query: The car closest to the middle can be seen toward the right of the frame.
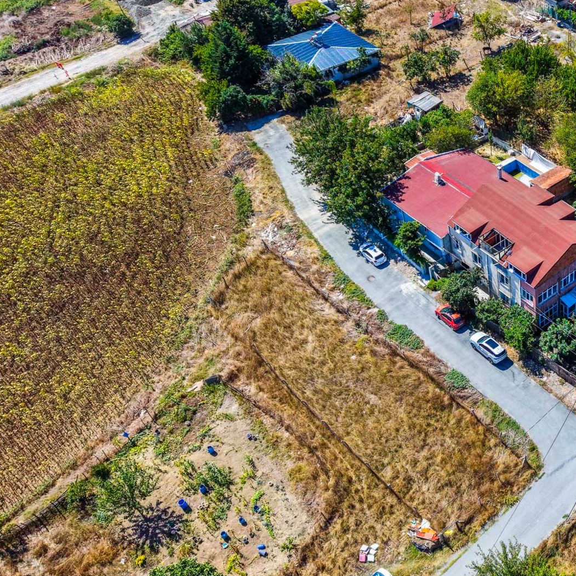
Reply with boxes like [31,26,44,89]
[358,241,392,267]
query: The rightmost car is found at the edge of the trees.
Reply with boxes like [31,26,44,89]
[467,329,510,364]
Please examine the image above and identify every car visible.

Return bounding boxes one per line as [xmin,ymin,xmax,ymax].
[434,303,470,332]
[370,565,393,576]
[358,241,392,267]
[467,329,510,364]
